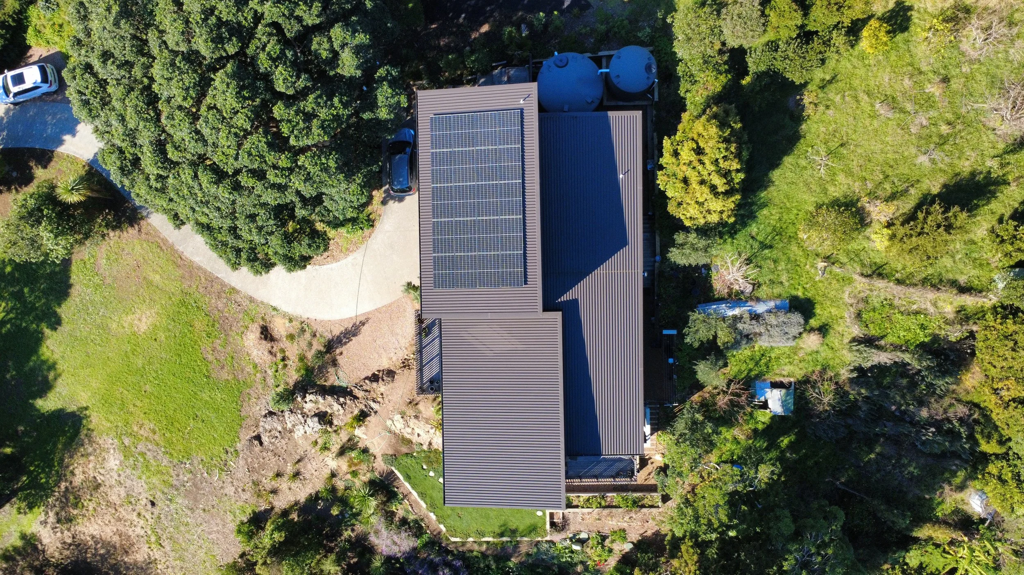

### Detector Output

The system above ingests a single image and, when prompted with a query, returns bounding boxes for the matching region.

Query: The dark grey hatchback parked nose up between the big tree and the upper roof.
[382,126,416,195]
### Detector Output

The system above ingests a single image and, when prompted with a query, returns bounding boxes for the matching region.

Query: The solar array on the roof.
[429,110,525,288]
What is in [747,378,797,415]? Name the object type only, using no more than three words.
shed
